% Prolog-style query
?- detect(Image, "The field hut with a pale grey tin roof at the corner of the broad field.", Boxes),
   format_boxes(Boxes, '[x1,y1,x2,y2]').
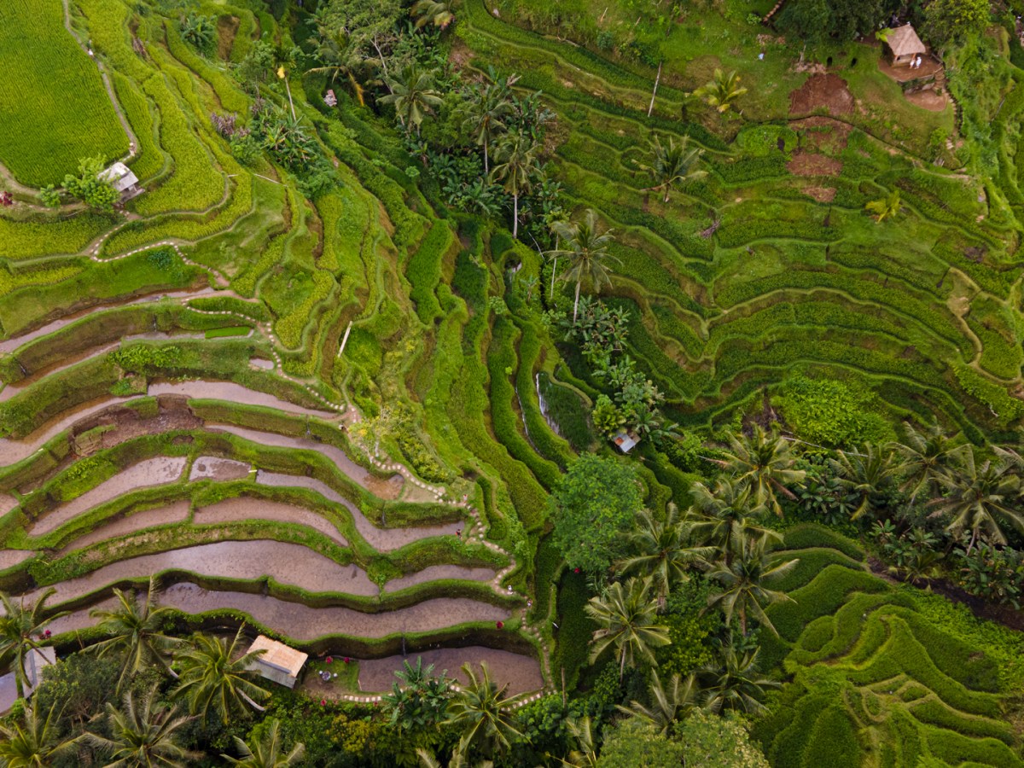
[104,167,147,203]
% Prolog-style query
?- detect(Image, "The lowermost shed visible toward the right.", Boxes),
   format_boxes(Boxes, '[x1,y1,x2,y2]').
[613,432,649,459]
